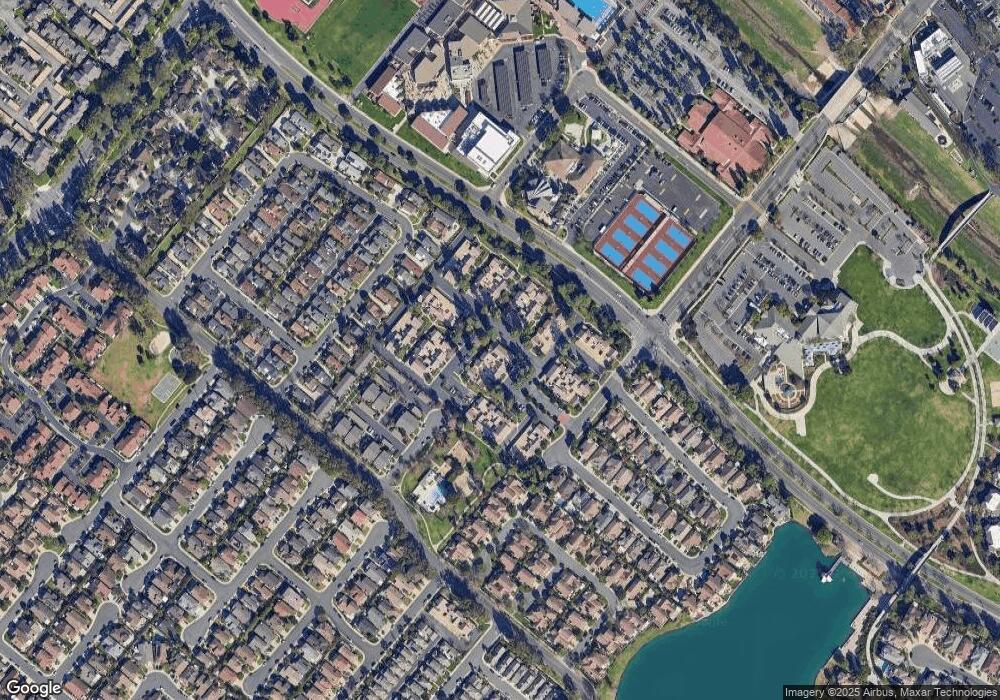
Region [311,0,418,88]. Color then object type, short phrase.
green sports field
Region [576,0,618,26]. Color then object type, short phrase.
blue swimming pool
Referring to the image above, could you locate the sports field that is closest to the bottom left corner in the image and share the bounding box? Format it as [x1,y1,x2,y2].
[98,330,184,426]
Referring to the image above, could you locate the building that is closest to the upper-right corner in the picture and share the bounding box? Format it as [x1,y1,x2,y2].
[921,28,963,88]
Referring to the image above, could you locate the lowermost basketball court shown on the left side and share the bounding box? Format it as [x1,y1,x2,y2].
[152,372,182,401]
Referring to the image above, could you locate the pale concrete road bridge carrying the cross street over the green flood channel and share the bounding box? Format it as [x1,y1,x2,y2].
[819,60,874,125]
